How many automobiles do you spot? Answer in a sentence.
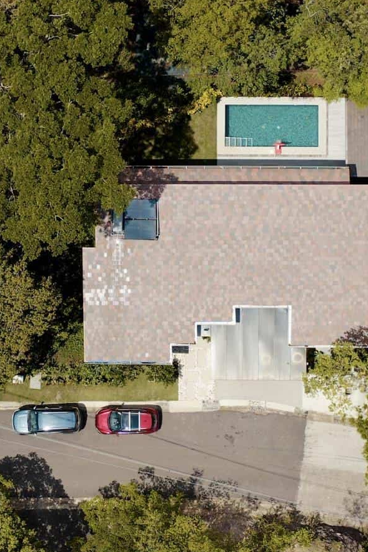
In total, there are 2 automobiles in the scene.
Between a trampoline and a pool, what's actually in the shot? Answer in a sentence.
This aerial view contains a pool.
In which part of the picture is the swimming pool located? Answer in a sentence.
Look in the top right portion of the view to spot the swimming pool.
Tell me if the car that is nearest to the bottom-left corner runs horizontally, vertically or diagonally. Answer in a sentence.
The car that is nearest to the bottom-left corner is oriented horizontally.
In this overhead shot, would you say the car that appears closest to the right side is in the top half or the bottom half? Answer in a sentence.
Seen from above, the car that appears closest to the right side lies in the bottom half of the view.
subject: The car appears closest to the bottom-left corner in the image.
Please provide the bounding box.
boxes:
[10,408,81,440]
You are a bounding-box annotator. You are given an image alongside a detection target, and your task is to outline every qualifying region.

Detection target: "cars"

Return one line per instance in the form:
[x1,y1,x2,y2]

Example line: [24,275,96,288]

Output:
[10,408,81,440]
[95,408,157,440]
